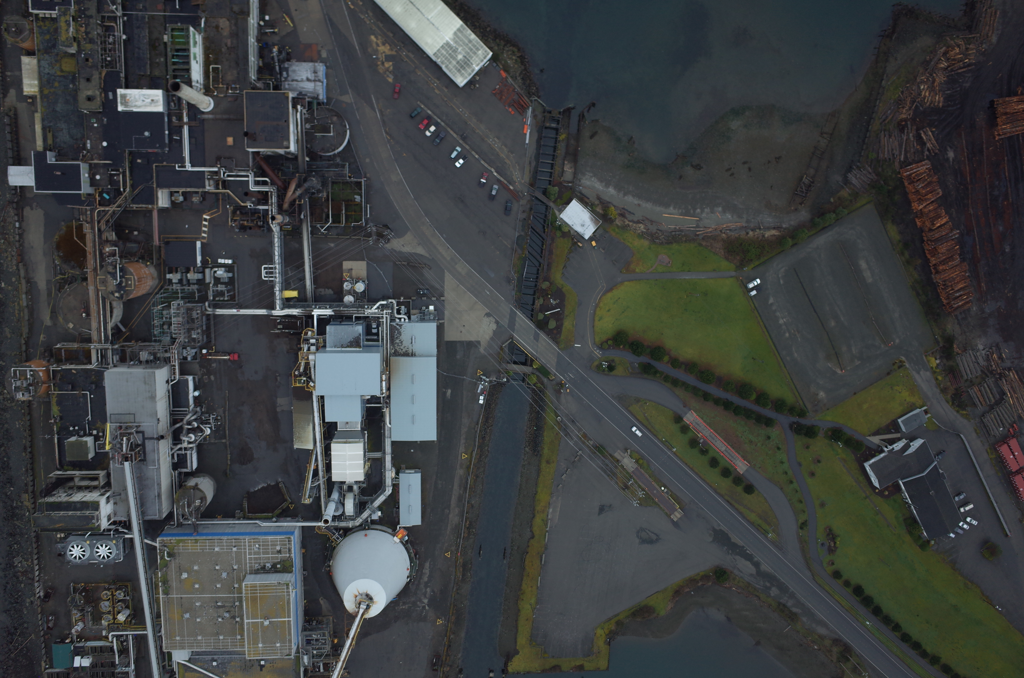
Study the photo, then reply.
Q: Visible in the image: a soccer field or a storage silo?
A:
storage silo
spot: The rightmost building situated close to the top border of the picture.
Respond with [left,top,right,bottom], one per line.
[370,0,493,91]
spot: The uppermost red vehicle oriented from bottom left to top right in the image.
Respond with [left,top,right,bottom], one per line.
[418,115,432,130]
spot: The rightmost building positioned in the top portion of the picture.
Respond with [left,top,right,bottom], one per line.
[558,199,602,239]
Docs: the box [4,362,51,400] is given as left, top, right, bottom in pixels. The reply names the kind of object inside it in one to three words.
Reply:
storage tank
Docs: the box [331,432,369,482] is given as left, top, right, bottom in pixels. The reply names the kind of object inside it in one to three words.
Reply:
building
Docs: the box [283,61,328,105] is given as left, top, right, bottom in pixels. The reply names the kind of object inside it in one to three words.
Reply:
shed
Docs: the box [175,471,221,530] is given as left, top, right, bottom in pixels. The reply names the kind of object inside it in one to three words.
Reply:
silo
